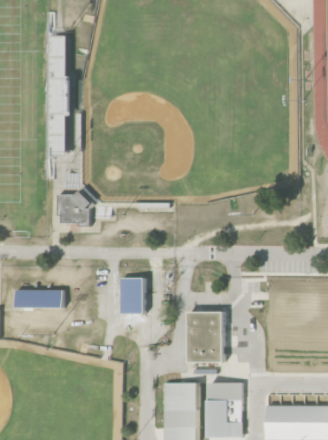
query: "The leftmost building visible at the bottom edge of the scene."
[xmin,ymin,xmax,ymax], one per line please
[164,382,200,440]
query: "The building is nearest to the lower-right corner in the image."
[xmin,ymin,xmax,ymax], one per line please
[264,406,328,440]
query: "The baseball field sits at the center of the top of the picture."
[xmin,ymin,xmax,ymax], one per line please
[88,0,300,200]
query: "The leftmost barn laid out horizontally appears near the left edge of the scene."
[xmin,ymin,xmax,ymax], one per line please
[14,290,65,308]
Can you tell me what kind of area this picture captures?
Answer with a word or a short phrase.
sports ground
